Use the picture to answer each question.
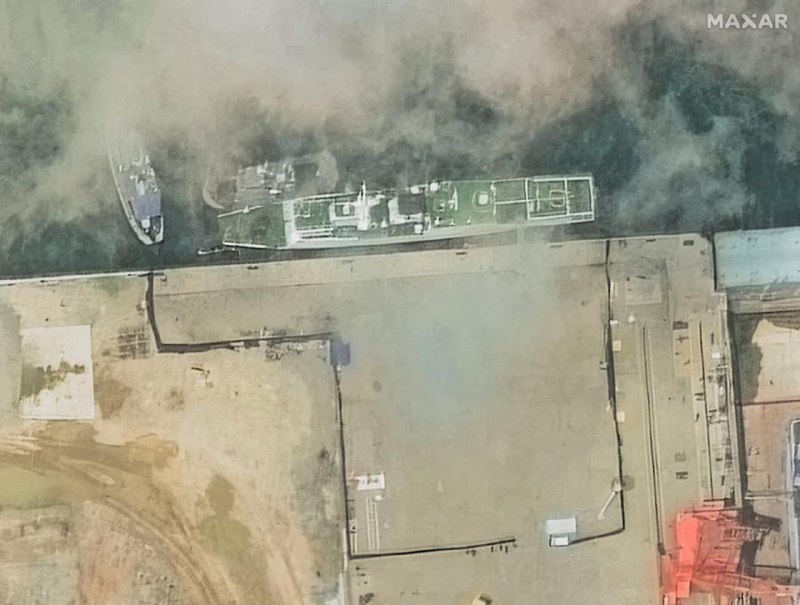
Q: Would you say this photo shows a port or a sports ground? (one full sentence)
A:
The area seen from above is a port.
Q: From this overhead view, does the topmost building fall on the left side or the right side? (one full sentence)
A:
The topmost building sits on the right side.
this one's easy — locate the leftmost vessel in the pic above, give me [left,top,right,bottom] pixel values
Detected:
[107,109,164,247]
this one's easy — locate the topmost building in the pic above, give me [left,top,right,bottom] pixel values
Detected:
[716,231,800,293]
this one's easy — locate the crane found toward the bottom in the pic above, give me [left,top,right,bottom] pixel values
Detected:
[664,500,800,605]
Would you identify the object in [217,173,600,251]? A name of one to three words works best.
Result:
ship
